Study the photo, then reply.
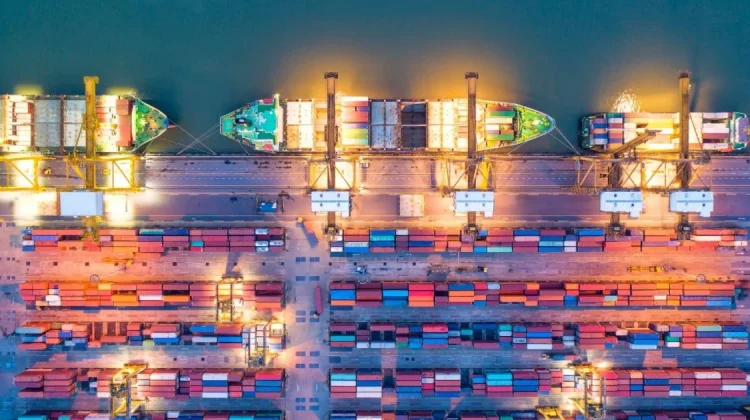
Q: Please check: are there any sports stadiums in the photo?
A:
No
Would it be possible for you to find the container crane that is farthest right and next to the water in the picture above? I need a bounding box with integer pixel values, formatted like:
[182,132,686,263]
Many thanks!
[620,73,715,240]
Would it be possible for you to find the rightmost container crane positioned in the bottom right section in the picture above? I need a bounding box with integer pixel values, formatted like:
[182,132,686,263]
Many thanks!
[568,362,611,420]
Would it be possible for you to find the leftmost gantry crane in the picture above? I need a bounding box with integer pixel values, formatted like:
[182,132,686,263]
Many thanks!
[0,126,77,213]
